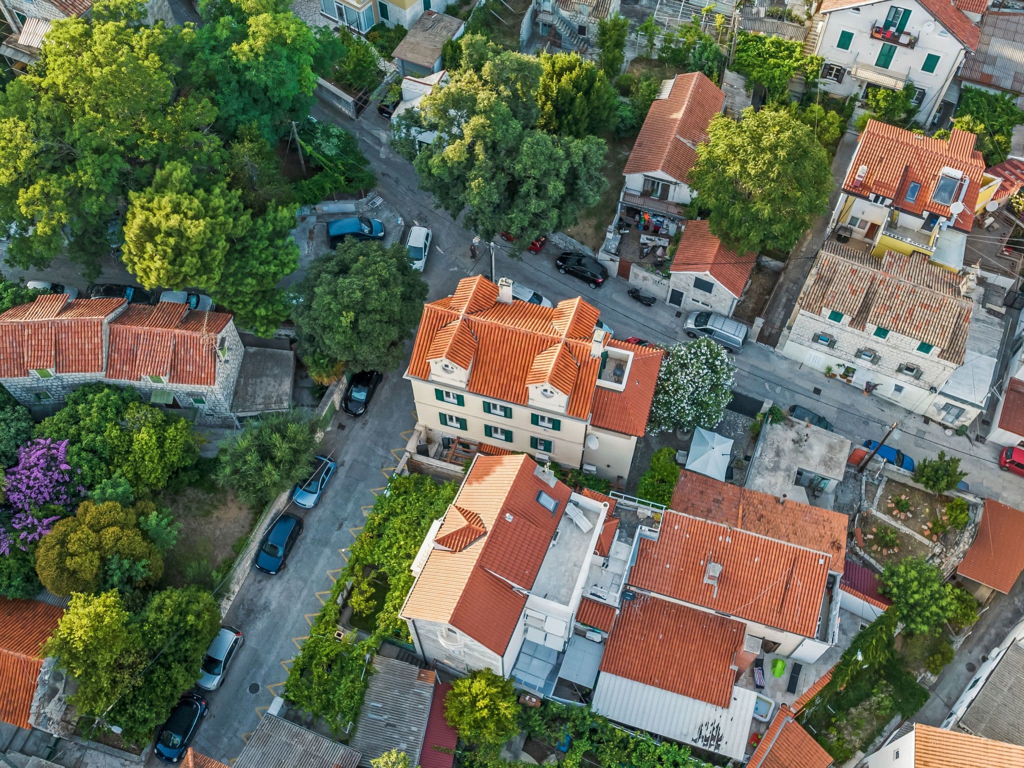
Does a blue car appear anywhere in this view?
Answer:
Yes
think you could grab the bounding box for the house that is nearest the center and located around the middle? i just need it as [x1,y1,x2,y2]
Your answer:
[407,273,666,483]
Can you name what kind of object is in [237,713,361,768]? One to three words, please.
shed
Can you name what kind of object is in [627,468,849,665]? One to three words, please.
house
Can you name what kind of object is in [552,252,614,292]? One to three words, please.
car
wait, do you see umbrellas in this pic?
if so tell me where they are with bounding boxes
[685,427,746,480]
[655,238,666,254]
